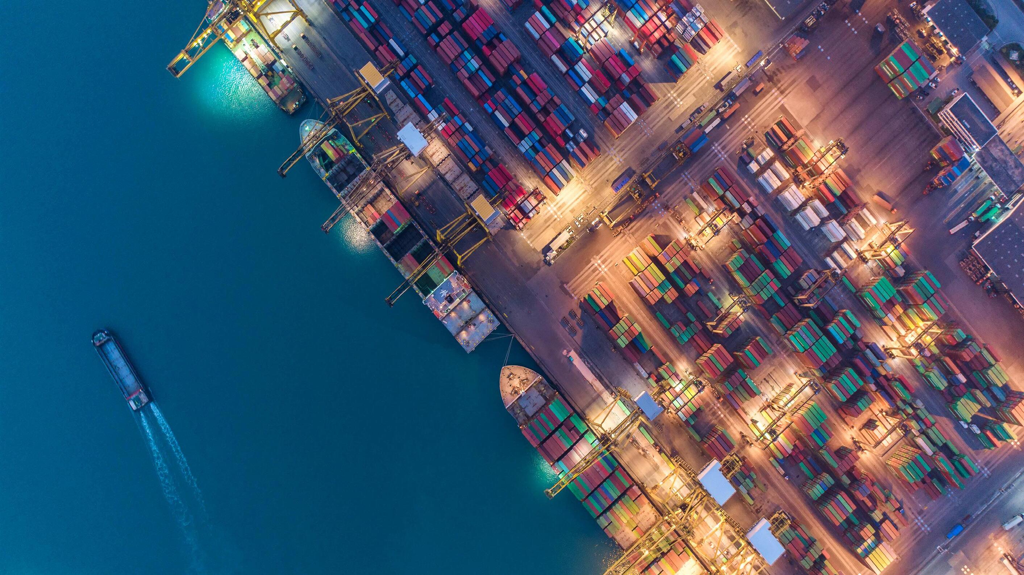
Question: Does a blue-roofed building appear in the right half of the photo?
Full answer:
Yes, the scene does show a blue-roofed building in the right half of the photo.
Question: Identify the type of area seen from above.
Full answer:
What you see here is a port.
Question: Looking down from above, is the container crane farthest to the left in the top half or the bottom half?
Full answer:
Seen from above, the container crane farthest to the left lies in the top half of the view.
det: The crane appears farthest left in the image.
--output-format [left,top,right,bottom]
[165,0,302,81]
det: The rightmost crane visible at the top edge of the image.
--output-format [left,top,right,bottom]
[629,7,675,55]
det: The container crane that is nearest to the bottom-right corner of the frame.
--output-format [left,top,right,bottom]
[854,411,912,457]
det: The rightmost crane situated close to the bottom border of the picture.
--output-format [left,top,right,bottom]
[689,501,791,575]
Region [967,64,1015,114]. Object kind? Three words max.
shed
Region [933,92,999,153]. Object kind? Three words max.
building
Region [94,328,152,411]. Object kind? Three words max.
ship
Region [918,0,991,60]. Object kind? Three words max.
building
